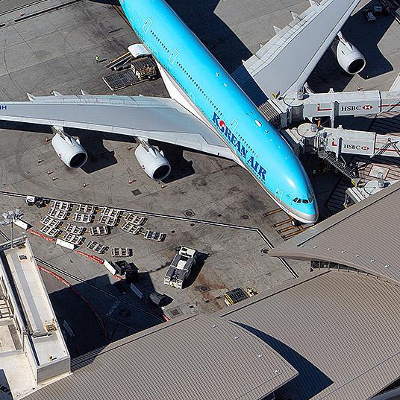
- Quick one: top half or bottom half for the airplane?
top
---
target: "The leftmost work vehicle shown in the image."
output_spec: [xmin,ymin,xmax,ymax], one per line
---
[22,192,43,207]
